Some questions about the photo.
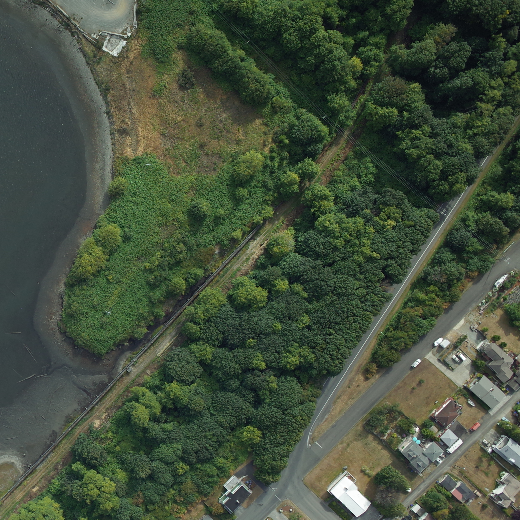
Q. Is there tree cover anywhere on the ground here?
Yes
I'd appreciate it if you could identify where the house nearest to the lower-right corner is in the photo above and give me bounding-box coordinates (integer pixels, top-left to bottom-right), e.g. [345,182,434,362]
[491,473,520,501]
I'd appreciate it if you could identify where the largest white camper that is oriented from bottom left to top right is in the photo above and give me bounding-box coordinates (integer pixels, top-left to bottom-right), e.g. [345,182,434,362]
[447,439,466,454]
